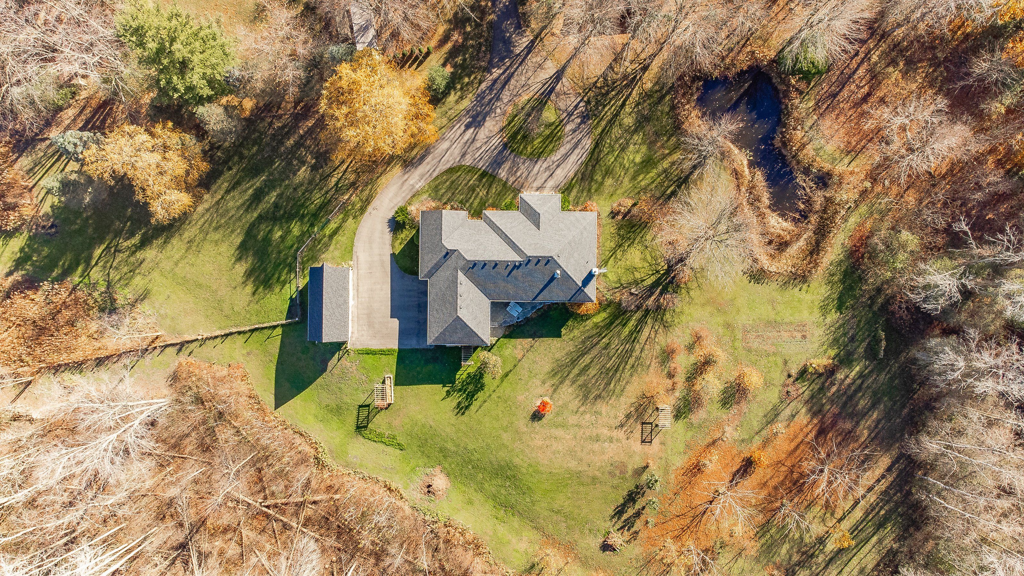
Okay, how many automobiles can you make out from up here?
none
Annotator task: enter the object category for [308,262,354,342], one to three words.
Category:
shed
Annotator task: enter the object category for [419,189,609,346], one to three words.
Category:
house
